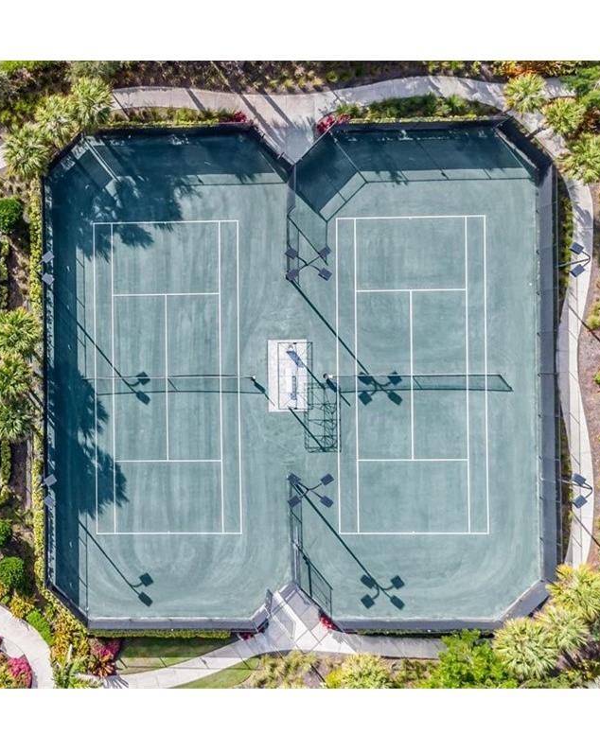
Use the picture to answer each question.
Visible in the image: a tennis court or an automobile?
tennis court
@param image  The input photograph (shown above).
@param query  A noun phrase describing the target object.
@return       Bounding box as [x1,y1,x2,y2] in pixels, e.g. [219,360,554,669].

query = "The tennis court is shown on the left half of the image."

[50,136,293,619]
